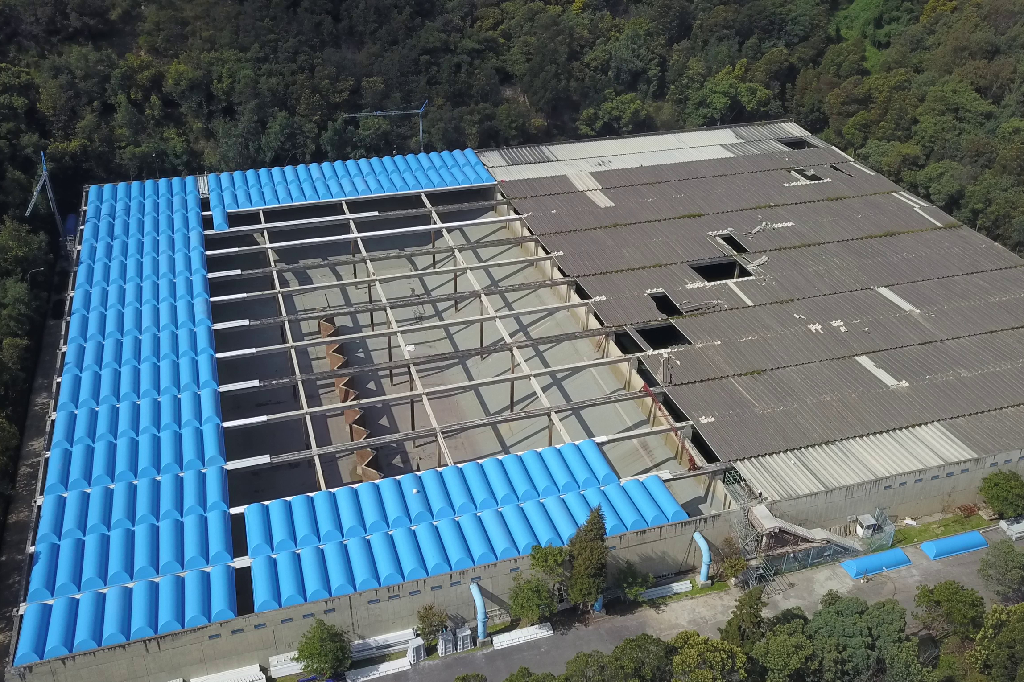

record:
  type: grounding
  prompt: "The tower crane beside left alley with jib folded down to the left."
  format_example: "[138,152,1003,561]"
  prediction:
[25,140,68,247]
